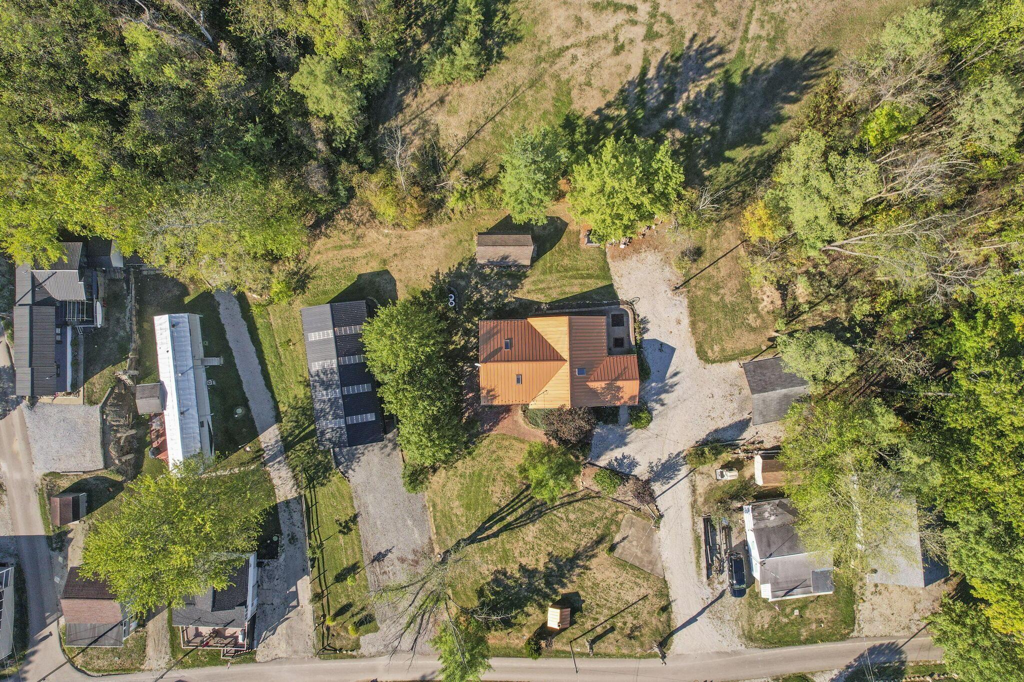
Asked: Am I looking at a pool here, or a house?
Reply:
house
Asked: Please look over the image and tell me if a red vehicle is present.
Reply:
No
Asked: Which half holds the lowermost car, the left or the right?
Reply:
right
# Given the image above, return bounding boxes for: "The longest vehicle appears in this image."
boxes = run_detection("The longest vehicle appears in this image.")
[725,549,750,598]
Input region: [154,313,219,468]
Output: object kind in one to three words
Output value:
house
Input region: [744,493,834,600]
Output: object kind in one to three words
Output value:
house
